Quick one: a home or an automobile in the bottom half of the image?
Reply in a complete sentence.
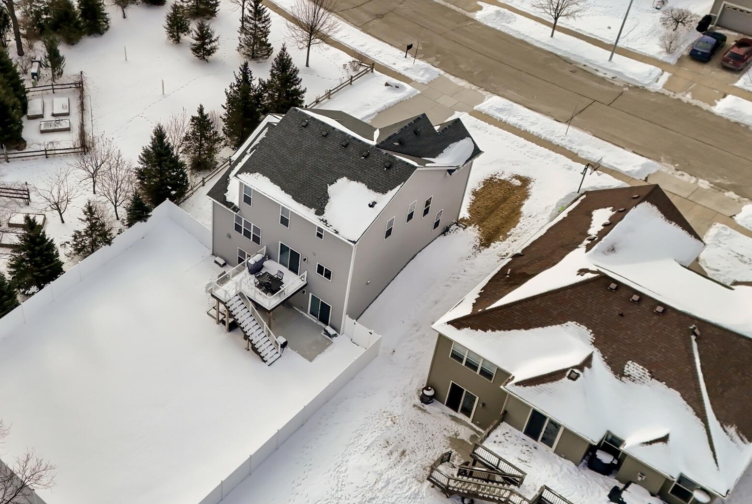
Looking in the bottom half of the image, you will find a home.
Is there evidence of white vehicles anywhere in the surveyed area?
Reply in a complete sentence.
No, this view has no white vehicle in it.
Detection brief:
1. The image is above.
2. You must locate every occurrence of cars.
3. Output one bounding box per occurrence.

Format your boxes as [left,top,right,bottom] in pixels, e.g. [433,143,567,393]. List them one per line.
[693,32,728,58]
[725,39,752,66]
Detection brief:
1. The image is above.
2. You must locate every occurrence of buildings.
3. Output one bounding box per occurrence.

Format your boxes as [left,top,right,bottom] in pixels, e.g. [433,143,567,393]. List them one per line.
[200,109,484,337]
[707,0,752,34]
[423,179,752,504]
